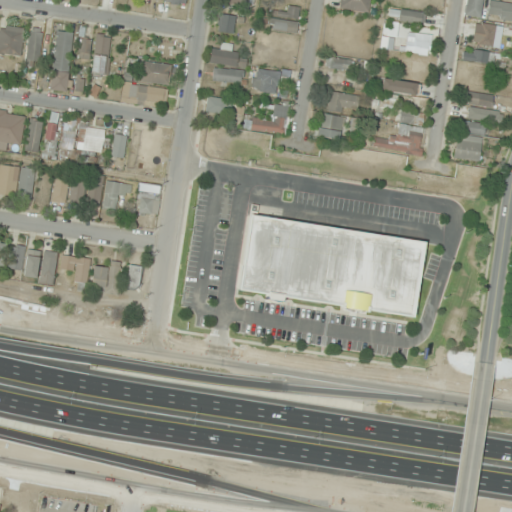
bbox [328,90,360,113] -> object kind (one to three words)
house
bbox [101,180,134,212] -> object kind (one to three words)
house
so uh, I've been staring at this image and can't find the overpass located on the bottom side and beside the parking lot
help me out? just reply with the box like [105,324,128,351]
[454,362,498,512]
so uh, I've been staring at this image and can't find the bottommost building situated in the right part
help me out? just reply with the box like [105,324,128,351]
[242,214,429,318]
